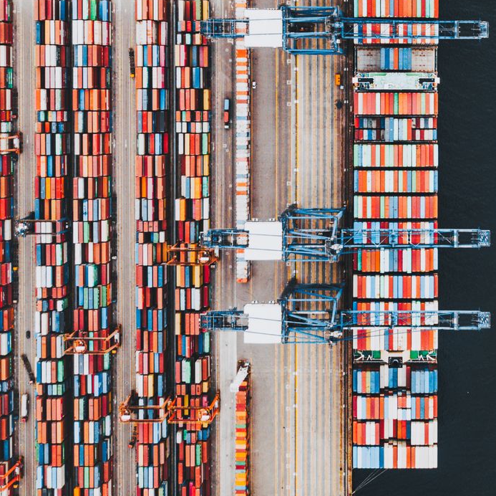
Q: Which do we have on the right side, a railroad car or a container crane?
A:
container crane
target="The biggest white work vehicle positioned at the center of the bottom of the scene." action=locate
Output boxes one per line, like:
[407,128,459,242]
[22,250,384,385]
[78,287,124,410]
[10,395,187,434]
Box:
[231,361,253,391]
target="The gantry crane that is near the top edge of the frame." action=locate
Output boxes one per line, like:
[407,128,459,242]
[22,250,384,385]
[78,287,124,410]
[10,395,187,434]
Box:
[204,3,490,60]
